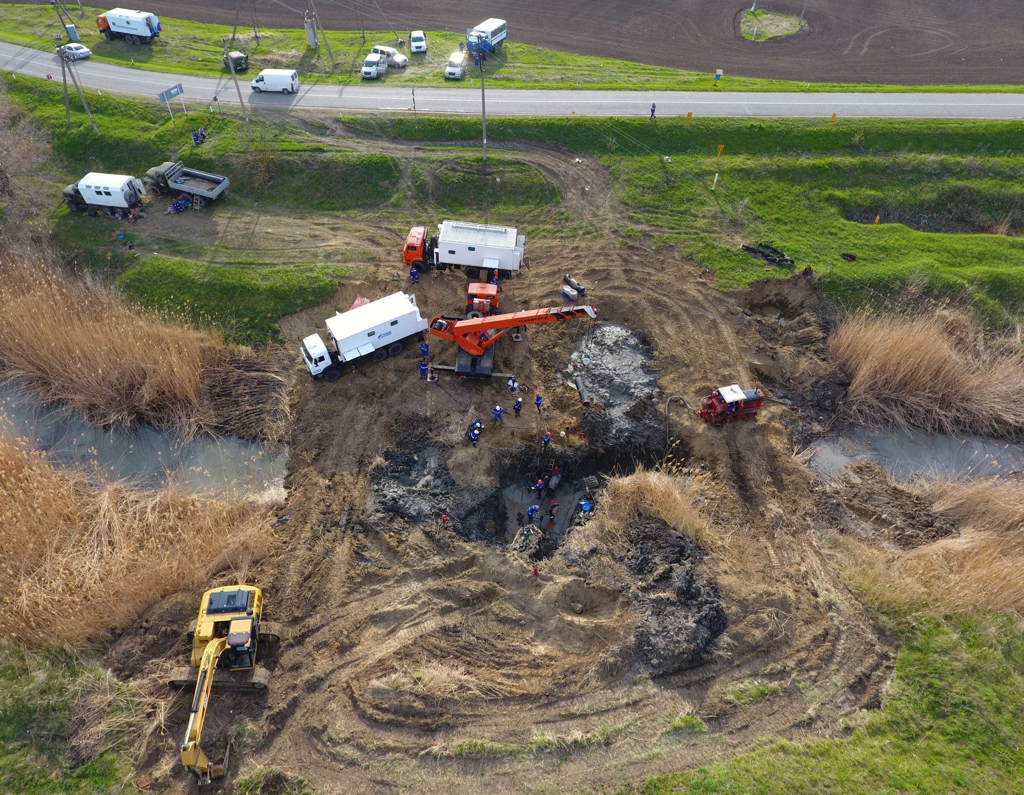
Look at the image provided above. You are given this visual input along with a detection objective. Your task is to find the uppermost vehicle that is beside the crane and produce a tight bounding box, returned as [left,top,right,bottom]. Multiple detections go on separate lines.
[400,217,531,281]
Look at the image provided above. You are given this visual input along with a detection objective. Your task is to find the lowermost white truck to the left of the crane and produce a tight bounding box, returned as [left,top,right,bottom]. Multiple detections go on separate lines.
[294,289,425,383]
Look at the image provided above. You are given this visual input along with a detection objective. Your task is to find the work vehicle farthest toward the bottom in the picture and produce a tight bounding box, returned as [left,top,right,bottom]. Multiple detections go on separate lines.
[170,587,287,782]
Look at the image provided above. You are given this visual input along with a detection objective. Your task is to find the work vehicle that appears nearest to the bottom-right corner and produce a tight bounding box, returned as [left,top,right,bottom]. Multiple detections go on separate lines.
[698,383,768,435]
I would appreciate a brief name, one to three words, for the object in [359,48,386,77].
car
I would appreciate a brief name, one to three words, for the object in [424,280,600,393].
crane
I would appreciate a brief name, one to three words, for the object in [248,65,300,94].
van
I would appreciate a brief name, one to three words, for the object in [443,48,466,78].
car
